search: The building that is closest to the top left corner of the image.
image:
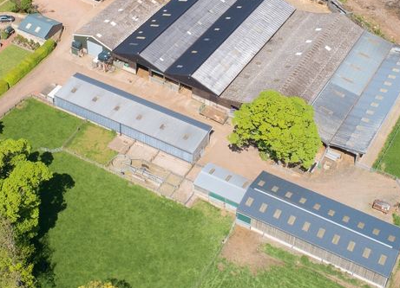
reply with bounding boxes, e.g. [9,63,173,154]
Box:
[18,14,63,43]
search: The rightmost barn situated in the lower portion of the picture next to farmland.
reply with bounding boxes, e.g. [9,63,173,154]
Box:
[236,170,400,288]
